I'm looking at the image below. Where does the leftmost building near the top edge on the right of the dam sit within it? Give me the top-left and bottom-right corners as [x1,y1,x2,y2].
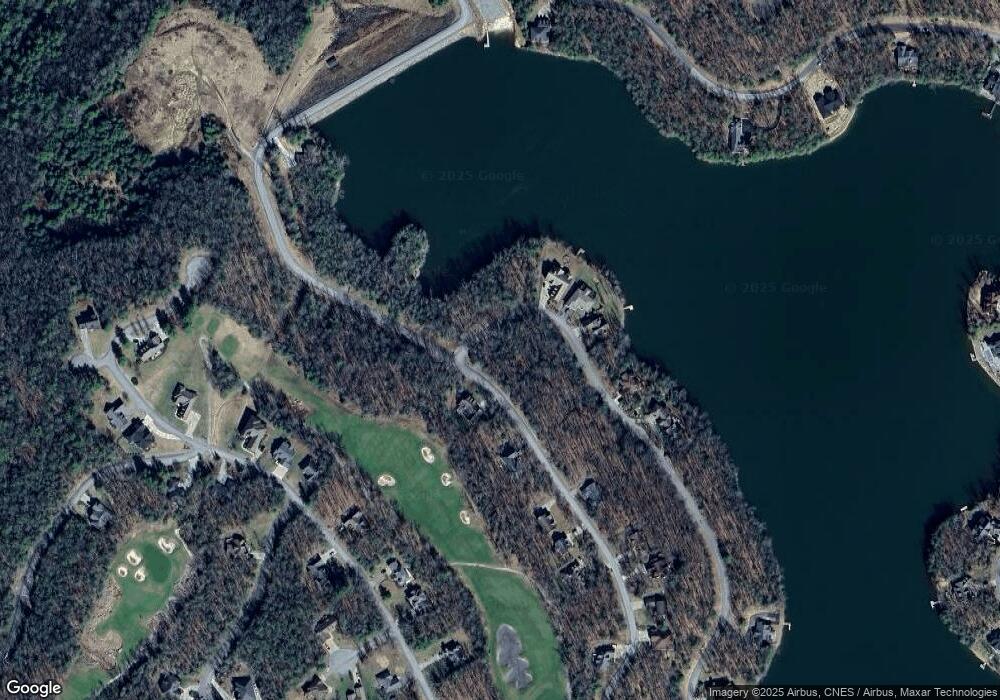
[531,26,551,47]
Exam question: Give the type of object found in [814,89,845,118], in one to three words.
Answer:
house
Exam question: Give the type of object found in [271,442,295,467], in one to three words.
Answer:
house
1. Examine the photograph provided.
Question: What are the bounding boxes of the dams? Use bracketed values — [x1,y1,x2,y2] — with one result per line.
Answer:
[262,0,481,144]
